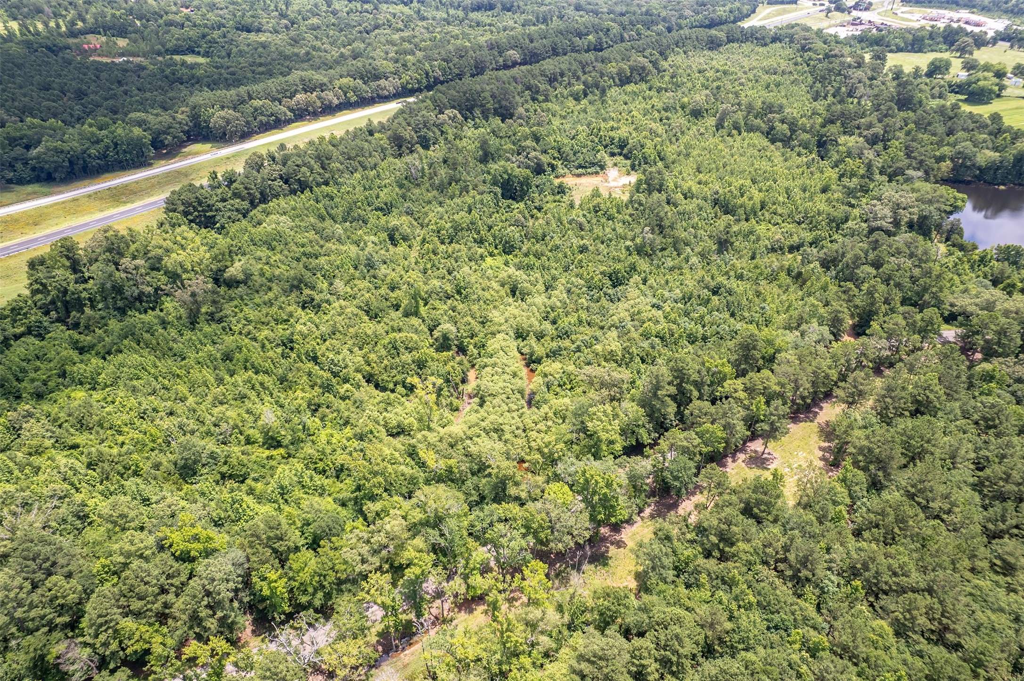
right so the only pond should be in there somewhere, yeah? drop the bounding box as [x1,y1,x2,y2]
[920,185,1024,266]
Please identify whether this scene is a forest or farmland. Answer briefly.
forest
